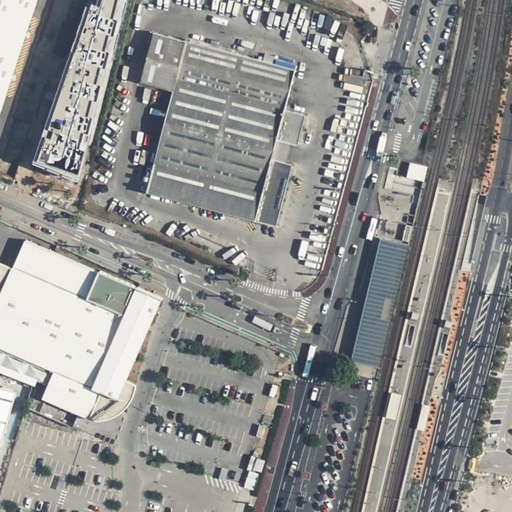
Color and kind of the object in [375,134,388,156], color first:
white vehicle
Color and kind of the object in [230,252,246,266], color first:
white vehicle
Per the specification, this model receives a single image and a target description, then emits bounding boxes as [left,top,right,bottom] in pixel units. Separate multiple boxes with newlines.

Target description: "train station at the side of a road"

[362,178,481,512]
